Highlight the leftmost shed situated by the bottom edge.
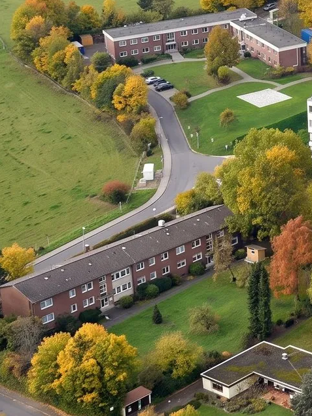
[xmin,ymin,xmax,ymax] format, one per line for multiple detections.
[117,383,150,414]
